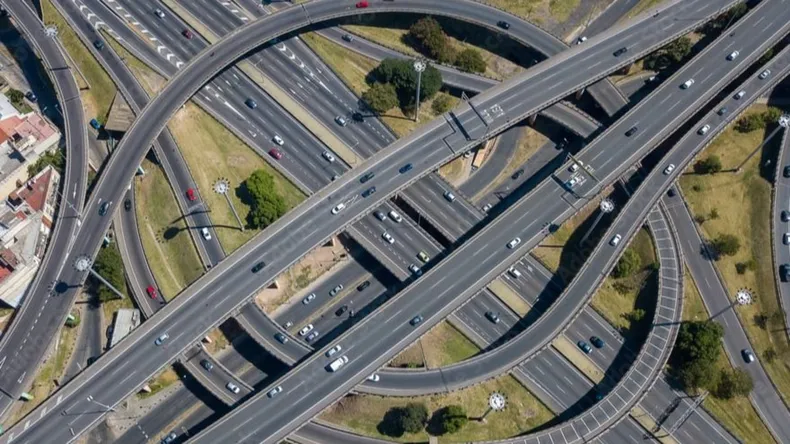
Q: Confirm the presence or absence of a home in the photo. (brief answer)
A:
Yes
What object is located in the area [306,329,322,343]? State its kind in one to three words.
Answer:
vehicle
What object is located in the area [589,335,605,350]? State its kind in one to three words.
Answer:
car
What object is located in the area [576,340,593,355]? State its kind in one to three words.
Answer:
car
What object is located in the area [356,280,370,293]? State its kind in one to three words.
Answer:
vehicle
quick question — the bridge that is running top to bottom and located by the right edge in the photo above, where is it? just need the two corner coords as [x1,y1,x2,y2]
[770,119,790,342]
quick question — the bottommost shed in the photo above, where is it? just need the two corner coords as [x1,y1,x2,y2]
[111,308,145,345]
